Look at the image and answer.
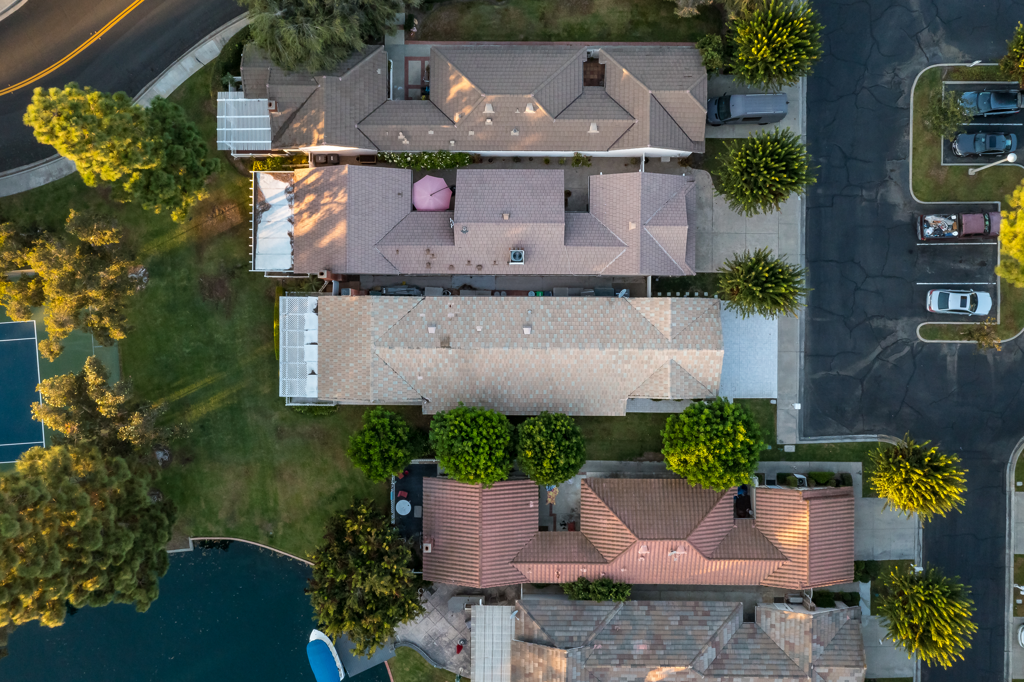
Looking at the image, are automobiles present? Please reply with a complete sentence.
Yes, there is an automobile in the image.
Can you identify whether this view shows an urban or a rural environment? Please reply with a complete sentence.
From above, the setting appears urban.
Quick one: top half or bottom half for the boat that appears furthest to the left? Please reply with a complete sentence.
Seen from above, the boat that appears furthest to the left lies in the bottom half of the view.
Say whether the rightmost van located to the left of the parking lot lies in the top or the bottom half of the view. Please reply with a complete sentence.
You can find the rightmost van located to the left of the parking lot in the top half.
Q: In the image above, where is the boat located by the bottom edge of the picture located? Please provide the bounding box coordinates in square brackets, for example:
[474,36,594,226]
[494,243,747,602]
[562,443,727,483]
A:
[303,627,344,682]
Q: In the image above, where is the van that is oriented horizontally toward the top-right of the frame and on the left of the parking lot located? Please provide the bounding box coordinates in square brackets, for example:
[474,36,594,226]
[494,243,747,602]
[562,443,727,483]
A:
[707,91,787,126]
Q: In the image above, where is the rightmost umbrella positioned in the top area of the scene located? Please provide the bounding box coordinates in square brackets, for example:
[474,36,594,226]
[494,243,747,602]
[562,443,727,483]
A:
[413,176,456,211]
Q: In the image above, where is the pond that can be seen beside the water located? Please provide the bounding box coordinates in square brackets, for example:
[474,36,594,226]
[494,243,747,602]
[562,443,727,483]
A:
[0,540,391,682]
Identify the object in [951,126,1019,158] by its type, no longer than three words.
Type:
car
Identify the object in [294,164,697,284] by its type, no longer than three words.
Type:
house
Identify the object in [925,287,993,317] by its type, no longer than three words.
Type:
car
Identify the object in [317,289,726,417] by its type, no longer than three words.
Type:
house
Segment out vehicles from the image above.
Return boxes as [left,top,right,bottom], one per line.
[925,287,993,317]
[707,91,787,126]
[954,86,1024,119]
[951,126,1019,158]
[912,207,1002,240]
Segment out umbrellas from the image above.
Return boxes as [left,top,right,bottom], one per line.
[413,176,456,211]
[459,638,467,657]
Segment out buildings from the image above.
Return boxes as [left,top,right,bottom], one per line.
[422,474,855,590]
[294,164,697,284]
[317,289,726,417]
[238,43,709,159]
[512,590,866,682]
